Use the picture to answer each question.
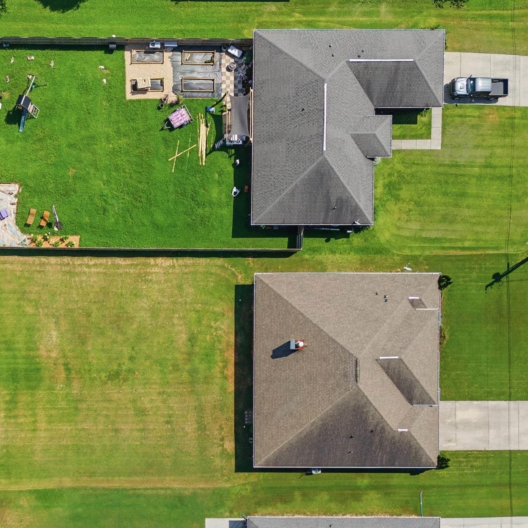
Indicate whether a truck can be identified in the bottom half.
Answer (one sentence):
No, no truck can be made out in the bottom half.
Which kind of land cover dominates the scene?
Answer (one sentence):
The bulk of the photo consists of grass.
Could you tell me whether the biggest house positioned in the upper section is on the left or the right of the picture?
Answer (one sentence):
It is on the right.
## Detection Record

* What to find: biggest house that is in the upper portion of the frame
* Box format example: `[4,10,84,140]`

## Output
[250,29,446,226]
